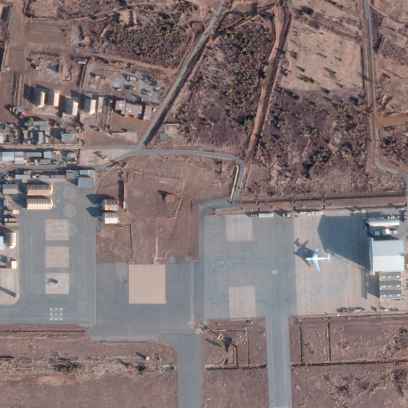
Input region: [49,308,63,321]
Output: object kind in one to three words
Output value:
helipad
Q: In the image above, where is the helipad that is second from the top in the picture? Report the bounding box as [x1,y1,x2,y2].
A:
[46,247,68,267]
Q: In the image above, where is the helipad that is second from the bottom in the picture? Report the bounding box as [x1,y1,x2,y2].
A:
[46,272,68,294]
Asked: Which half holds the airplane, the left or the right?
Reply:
right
